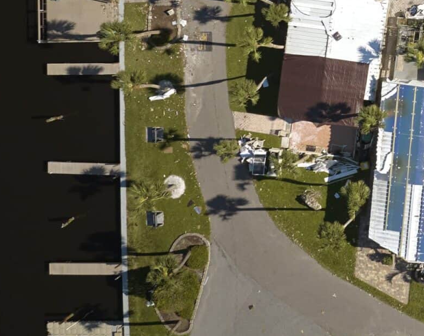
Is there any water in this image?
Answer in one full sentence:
Yes, water shows up in the scene.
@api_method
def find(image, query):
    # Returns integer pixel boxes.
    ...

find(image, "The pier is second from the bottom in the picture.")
[48,161,120,178]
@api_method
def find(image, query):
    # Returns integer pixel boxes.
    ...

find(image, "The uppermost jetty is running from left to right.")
[47,64,118,77]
